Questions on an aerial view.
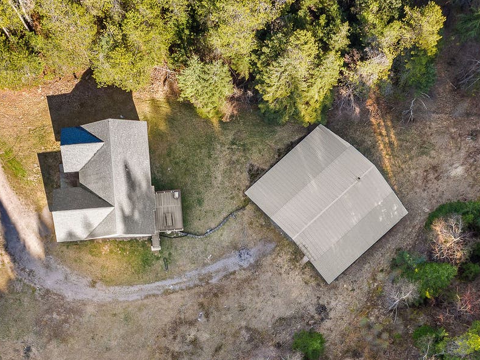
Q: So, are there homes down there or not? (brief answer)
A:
Yes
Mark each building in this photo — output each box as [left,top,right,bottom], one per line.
[51,118,185,250]
[246,123,406,285]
